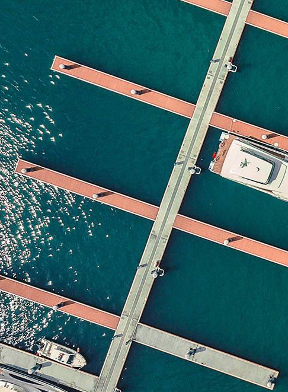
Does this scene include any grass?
No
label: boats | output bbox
[36,340,88,367]
[209,133,288,202]
[0,362,68,392]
